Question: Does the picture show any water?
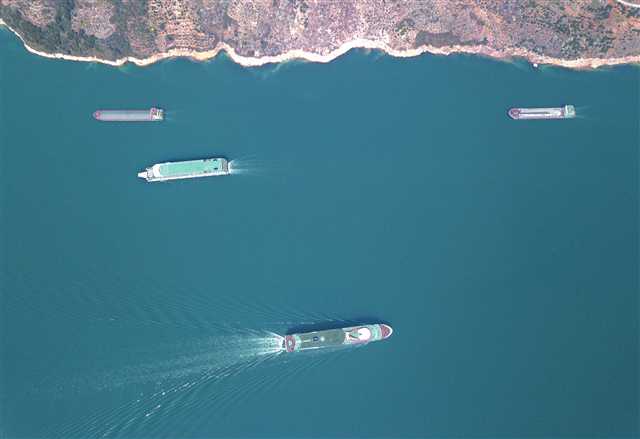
Yes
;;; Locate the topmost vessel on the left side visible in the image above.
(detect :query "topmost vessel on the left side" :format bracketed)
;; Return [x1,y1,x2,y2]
[93,109,164,121]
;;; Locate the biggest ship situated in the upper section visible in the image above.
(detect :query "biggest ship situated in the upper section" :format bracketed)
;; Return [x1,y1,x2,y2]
[138,159,231,182]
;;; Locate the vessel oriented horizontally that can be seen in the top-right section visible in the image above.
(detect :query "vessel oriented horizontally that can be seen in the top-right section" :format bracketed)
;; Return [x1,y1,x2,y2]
[507,106,576,119]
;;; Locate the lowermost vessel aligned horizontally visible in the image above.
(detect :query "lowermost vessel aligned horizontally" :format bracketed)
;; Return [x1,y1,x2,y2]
[284,323,392,352]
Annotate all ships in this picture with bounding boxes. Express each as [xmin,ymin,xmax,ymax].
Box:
[284,323,392,352]
[93,109,164,121]
[507,106,576,119]
[138,159,231,182]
